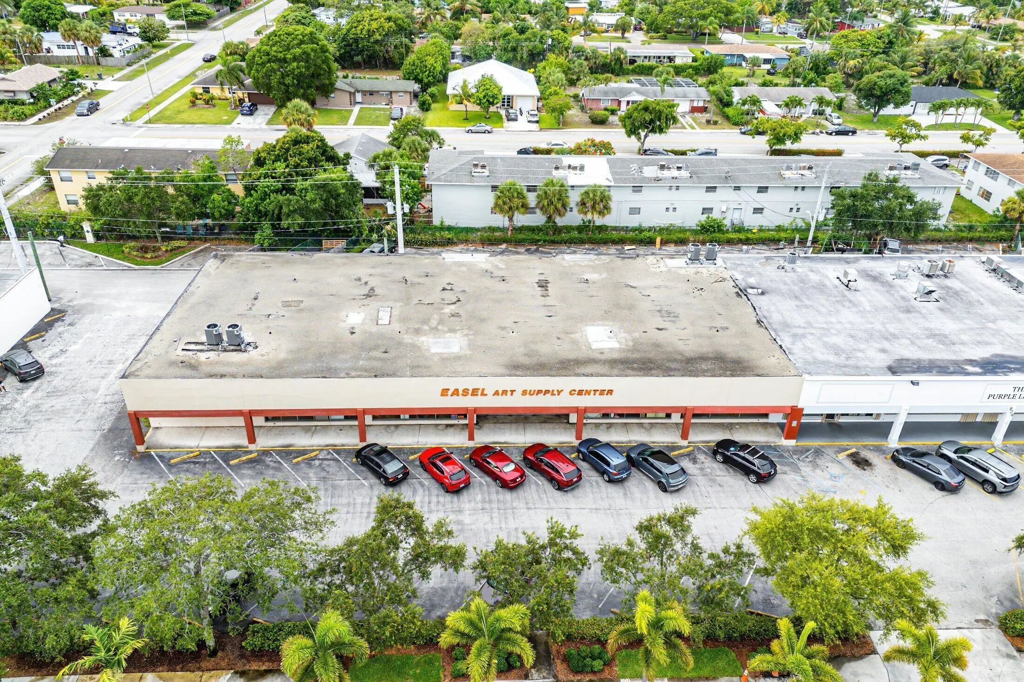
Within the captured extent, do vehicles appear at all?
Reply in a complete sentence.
Yes, I can see a vehicle in this picture.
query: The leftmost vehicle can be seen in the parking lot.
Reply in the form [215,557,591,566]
[0,351,45,383]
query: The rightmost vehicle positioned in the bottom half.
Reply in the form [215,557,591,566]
[940,442,1023,497]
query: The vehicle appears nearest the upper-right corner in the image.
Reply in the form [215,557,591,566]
[927,154,962,168]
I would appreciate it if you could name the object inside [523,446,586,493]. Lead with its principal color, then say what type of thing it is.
red car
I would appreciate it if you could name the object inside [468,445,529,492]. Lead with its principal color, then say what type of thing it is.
red car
